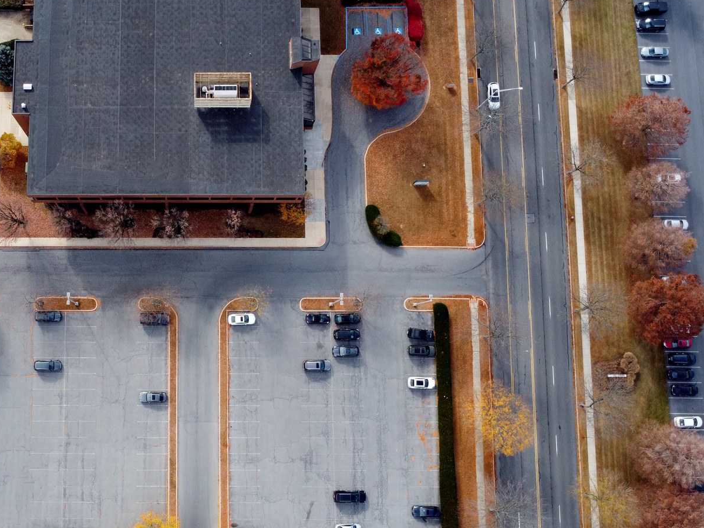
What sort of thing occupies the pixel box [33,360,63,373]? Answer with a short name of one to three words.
vehicle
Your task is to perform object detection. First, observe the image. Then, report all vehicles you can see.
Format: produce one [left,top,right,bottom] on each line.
[408,345,435,358]
[35,310,63,323]
[333,523,361,528]
[303,361,330,372]
[668,383,698,397]
[634,1,668,14]
[666,368,694,380]
[332,329,359,341]
[411,500,440,519]
[33,360,63,373]
[407,377,435,390]
[666,352,696,366]
[673,415,702,429]
[640,45,668,59]
[331,345,359,358]
[139,391,167,404]
[405,328,434,340]
[139,313,169,325]
[486,83,501,110]
[332,490,366,504]
[228,314,255,325]
[306,313,329,324]
[635,19,666,31]
[645,74,670,86]
[333,313,360,324]
[663,338,692,349]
